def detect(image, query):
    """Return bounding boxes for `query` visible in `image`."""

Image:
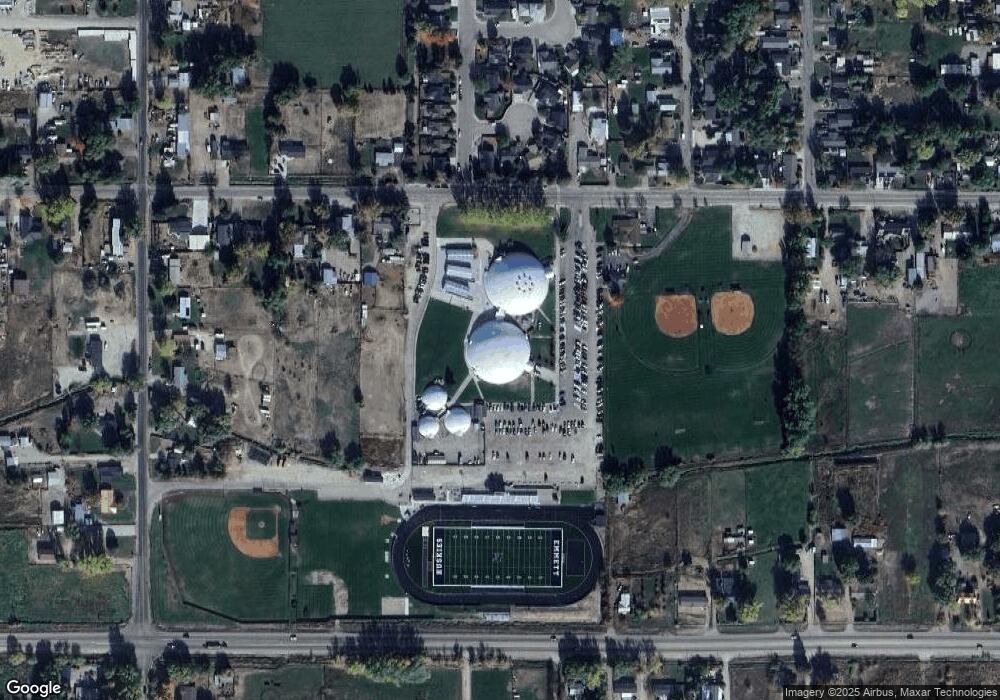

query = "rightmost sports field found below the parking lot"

[405,520,592,595]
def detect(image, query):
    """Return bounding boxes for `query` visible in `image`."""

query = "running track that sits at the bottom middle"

[392,505,604,604]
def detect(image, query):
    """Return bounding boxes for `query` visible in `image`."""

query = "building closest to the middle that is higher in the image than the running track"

[465,311,535,384]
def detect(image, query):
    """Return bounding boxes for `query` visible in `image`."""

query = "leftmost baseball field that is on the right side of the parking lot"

[617,262,704,376]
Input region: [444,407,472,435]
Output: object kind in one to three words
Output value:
building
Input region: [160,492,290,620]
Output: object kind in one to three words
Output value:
baseball field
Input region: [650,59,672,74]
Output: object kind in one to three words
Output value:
house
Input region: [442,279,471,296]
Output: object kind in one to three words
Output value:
greenhouse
